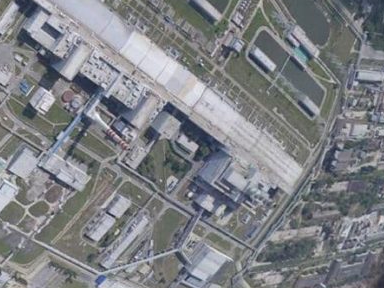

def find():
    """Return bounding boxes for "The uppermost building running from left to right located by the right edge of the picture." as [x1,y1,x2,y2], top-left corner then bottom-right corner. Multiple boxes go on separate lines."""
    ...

[351,70,384,82]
